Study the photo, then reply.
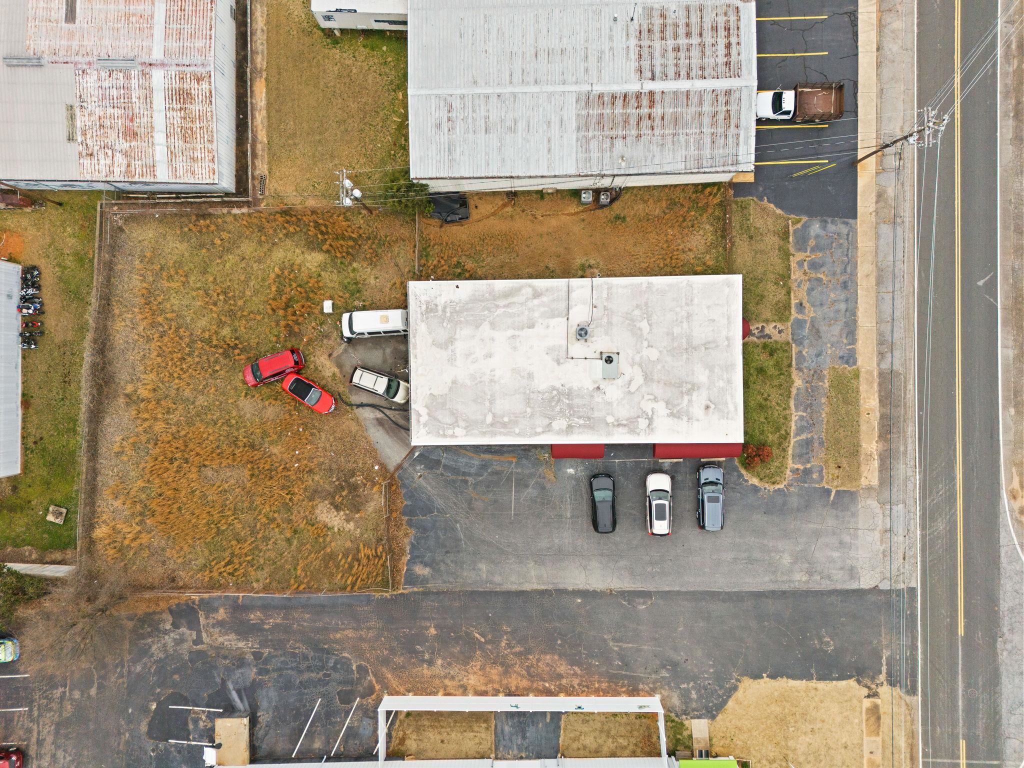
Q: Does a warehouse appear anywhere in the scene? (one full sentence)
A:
Yes, a warehouse can be made out from above.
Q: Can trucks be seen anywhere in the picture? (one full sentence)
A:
Yes, looking at the shot, I can spot a truck.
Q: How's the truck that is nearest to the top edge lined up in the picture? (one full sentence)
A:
In this picture, the truck that is nearest to the top edge lies horizontally.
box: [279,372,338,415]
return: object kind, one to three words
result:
car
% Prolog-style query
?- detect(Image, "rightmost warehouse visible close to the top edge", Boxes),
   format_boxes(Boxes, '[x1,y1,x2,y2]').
[403,0,758,195]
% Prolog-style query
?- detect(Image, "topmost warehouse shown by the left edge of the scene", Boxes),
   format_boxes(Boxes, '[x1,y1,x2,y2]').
[0,0,236,193]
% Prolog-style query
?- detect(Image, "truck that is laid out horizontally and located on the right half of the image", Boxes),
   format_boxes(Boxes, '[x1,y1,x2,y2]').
[757,83,841,123]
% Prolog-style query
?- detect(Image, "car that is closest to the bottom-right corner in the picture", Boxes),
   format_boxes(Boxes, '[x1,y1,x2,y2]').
[694,464,728,532]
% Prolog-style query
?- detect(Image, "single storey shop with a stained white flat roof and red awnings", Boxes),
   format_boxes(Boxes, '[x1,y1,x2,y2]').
[407,274,745,446]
